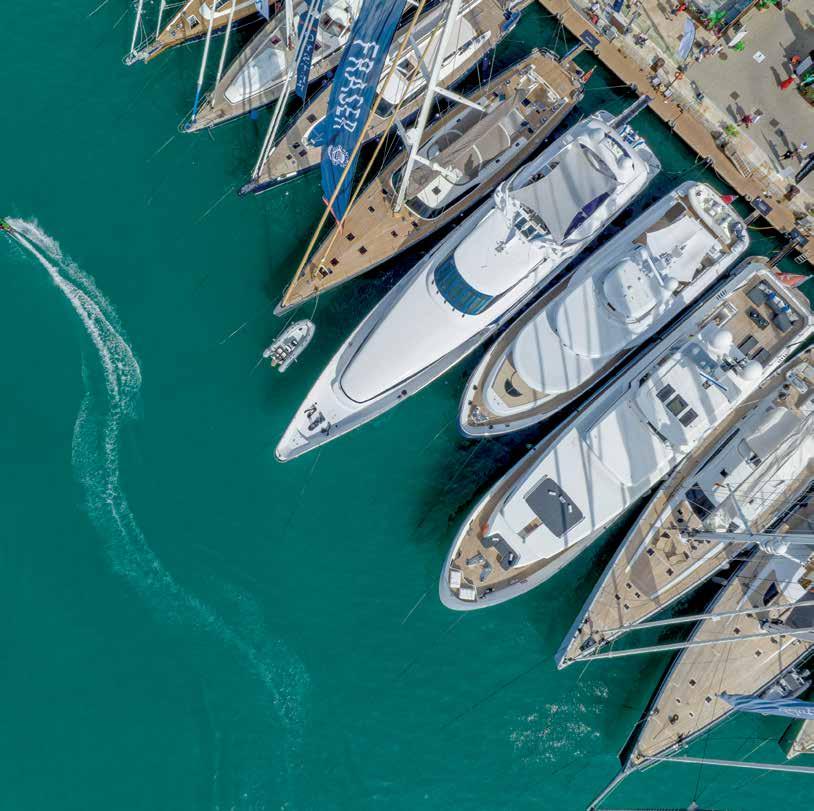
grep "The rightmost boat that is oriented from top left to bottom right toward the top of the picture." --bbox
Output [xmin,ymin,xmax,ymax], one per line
[692,186,746,253]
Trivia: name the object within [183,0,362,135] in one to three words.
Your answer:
boat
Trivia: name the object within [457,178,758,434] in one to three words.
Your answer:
boat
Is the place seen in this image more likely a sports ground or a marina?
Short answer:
marina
